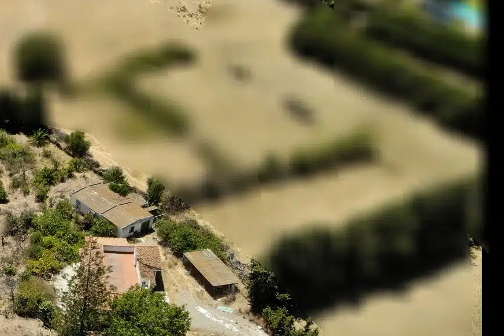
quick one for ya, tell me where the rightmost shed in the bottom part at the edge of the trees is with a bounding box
[181,247,241,302]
